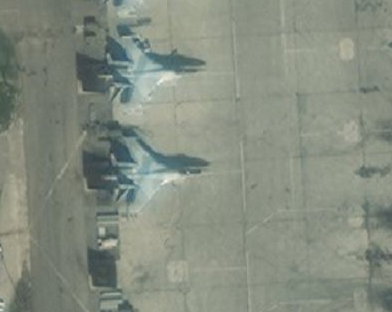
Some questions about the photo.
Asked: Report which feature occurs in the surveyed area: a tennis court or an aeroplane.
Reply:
aeroplane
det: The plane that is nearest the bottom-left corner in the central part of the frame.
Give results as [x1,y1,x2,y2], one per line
[103,138,211,215]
